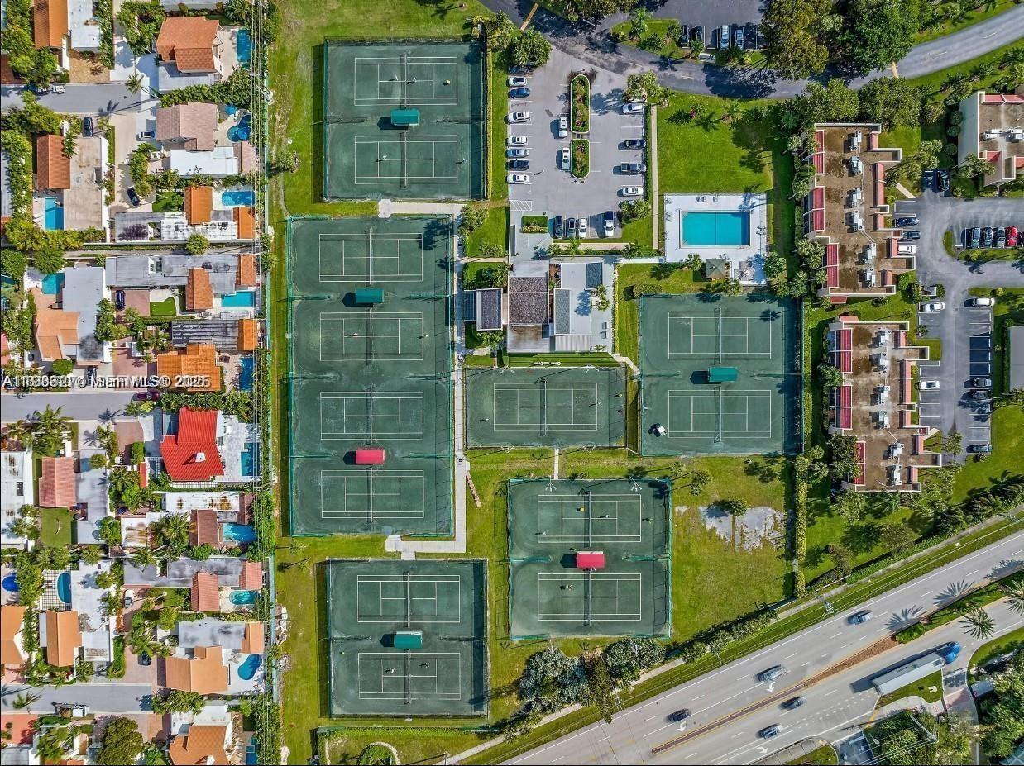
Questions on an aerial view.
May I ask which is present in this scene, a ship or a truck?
truck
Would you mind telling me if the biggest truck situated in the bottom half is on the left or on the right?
right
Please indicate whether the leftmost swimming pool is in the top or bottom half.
bottom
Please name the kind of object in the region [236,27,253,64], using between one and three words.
swimming pool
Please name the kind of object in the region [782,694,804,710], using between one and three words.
car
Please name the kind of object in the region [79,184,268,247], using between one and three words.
house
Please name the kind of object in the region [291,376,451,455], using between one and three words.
tennis court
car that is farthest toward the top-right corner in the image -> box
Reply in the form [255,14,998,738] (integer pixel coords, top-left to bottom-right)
[936,172,948,193]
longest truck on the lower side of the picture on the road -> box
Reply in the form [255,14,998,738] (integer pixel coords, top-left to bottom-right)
[870,643,960,696]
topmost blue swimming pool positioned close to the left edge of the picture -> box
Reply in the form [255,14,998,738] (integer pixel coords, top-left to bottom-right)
[43,195,65,231]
